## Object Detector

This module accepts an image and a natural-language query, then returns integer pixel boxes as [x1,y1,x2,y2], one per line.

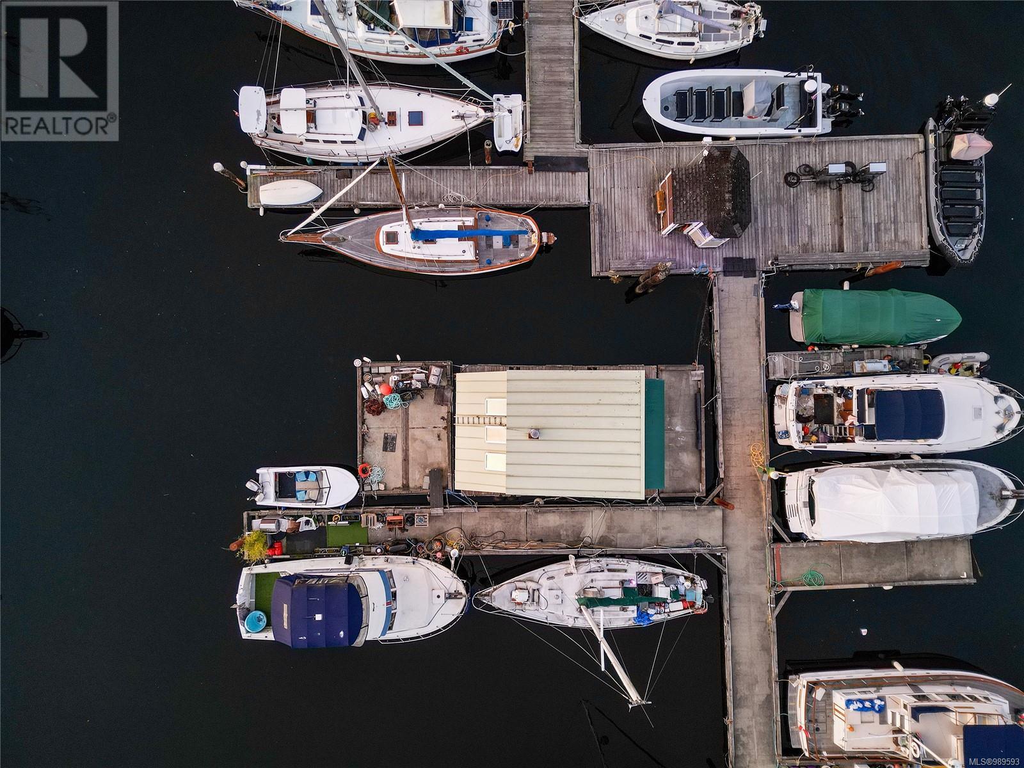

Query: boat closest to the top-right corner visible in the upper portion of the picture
[907,83,1012,267]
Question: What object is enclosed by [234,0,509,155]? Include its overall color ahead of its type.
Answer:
white boat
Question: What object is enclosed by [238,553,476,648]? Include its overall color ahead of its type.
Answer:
white boat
